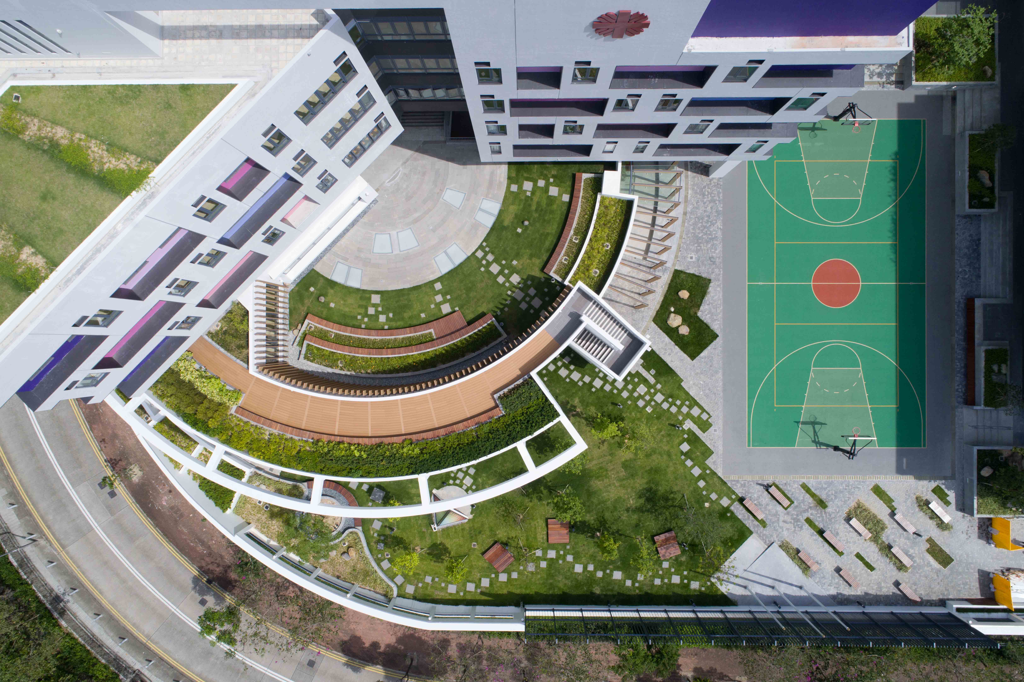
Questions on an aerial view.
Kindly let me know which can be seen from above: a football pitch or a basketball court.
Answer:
basketball court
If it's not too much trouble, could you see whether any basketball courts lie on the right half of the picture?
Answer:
Yes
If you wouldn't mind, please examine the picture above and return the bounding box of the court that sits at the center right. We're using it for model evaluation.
[748,119,926,447]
